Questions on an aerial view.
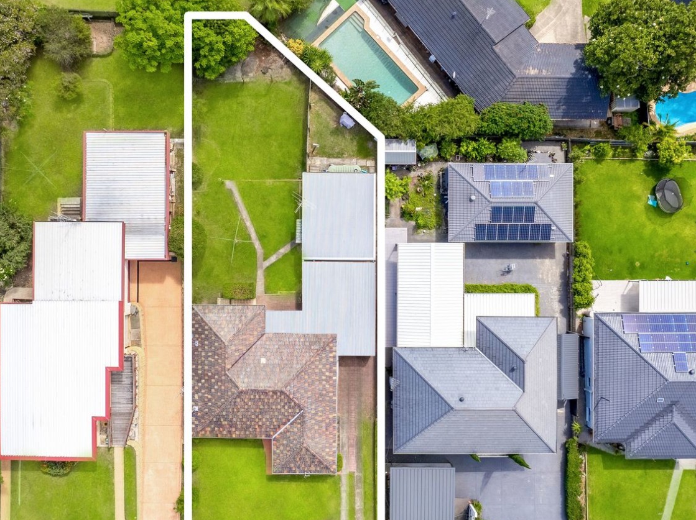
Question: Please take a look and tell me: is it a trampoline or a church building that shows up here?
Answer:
trampoline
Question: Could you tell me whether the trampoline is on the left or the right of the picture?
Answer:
right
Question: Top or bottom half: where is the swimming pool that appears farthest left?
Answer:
top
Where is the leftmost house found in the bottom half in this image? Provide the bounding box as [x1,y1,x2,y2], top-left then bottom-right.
[0,221,132,460]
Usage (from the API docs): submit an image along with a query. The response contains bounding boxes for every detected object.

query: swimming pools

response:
[650,85,696,134]
[315,6,427,123]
